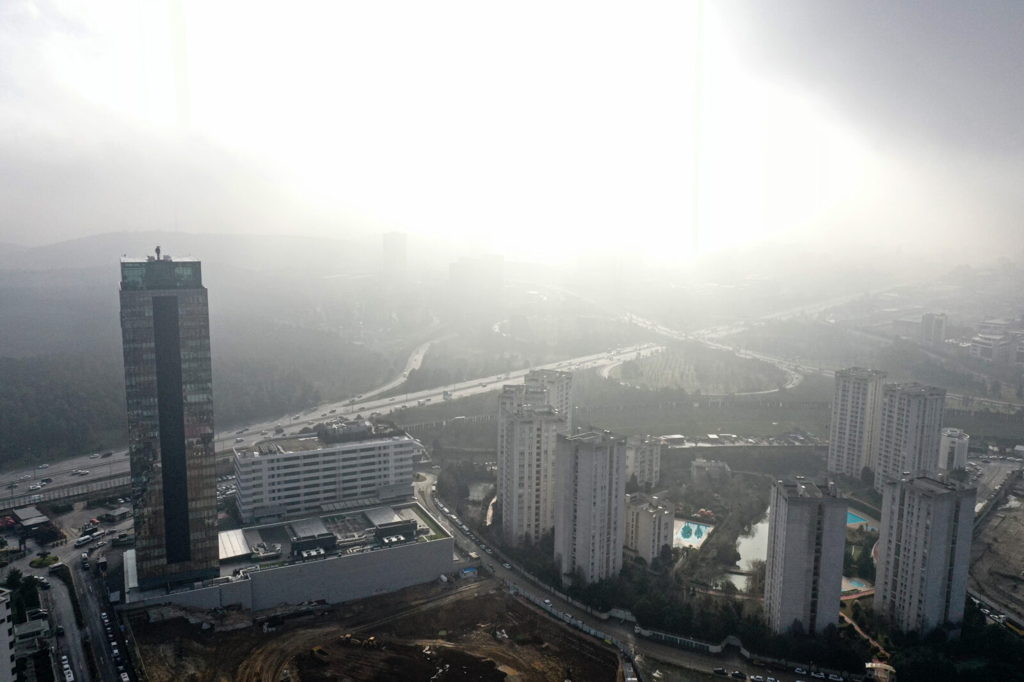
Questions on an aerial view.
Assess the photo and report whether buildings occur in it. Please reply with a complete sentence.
Yes, the picture does show a building.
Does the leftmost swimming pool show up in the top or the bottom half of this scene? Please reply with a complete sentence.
Seen from above, the leftmost swimming pool lies in the bottom half of the view.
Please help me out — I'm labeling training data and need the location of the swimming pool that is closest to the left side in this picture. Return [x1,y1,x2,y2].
[675,521,711,544]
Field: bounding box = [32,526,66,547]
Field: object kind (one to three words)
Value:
building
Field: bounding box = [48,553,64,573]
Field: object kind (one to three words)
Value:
vehicle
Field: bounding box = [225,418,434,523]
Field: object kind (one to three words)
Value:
building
